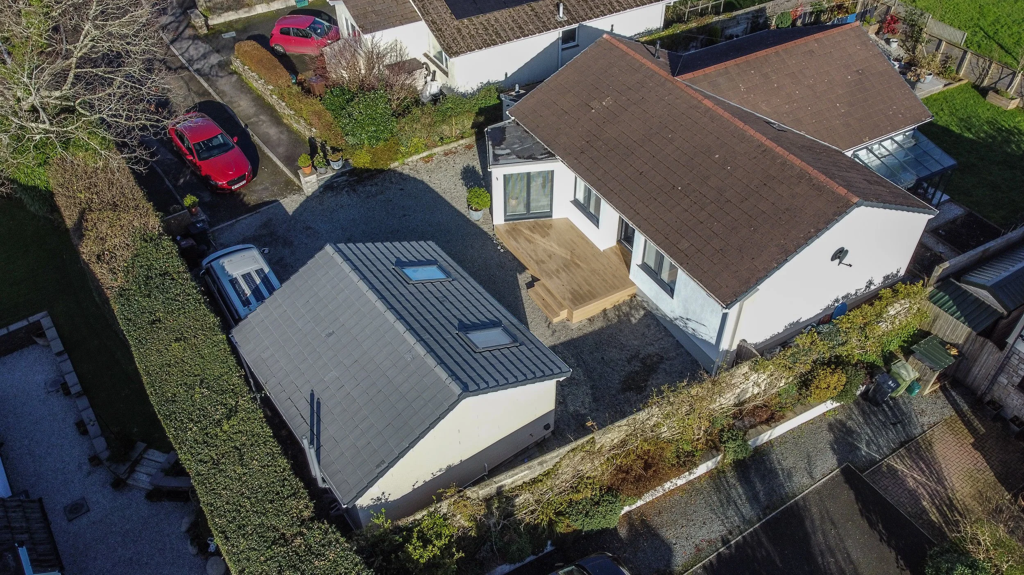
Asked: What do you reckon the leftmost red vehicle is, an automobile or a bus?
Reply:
automobile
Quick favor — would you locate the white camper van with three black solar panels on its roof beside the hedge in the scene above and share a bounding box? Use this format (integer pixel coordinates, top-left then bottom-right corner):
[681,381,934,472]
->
[192,252,281,331]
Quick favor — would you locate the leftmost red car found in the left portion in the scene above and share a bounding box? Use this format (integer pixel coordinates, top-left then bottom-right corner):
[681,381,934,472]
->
[164,111,259,195]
